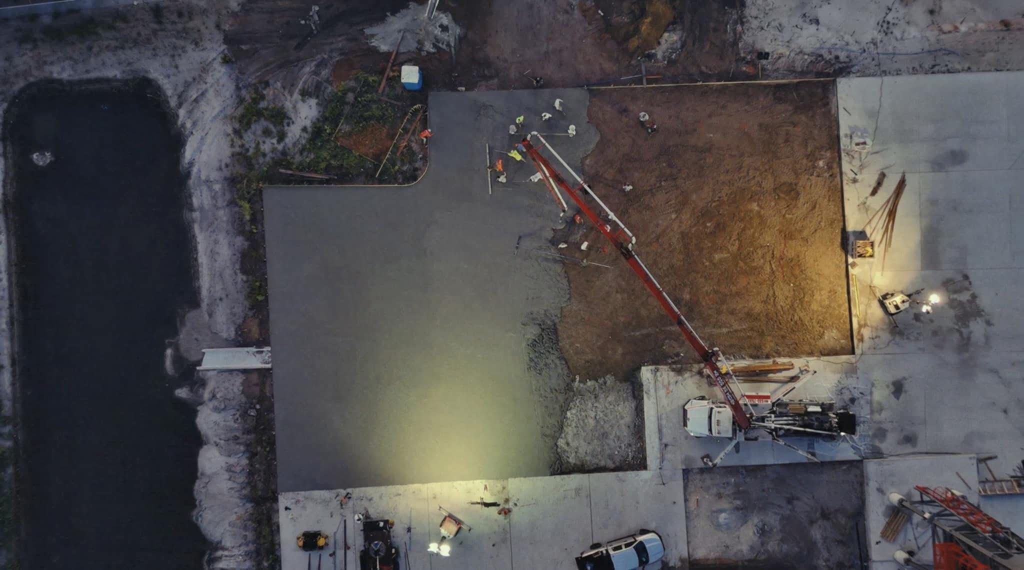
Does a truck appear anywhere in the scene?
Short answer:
Yes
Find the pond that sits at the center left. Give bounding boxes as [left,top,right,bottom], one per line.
[6,78,221,570]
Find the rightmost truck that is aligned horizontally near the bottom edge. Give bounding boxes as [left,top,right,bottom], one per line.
[571,528,668,570]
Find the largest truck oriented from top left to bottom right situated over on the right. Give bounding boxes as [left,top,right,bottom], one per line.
[522,130,857,467]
